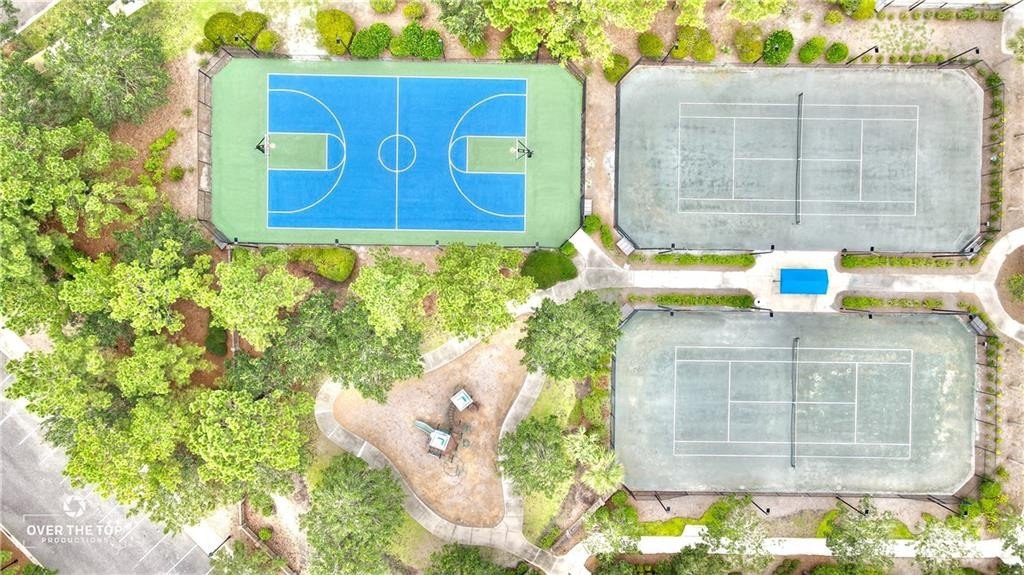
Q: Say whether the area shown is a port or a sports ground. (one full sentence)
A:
The picture captures a sports ground.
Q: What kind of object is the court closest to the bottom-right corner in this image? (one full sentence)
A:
It turns out the court closest to the bottom-right corner is a tennis court.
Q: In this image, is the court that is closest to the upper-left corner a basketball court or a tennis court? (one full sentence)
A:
The court that is closest to the upper-left corner in the image is a basketball court.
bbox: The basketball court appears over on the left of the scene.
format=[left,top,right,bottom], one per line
[211,57,583,247]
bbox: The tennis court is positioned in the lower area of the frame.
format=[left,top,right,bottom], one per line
[611,310,977,495]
